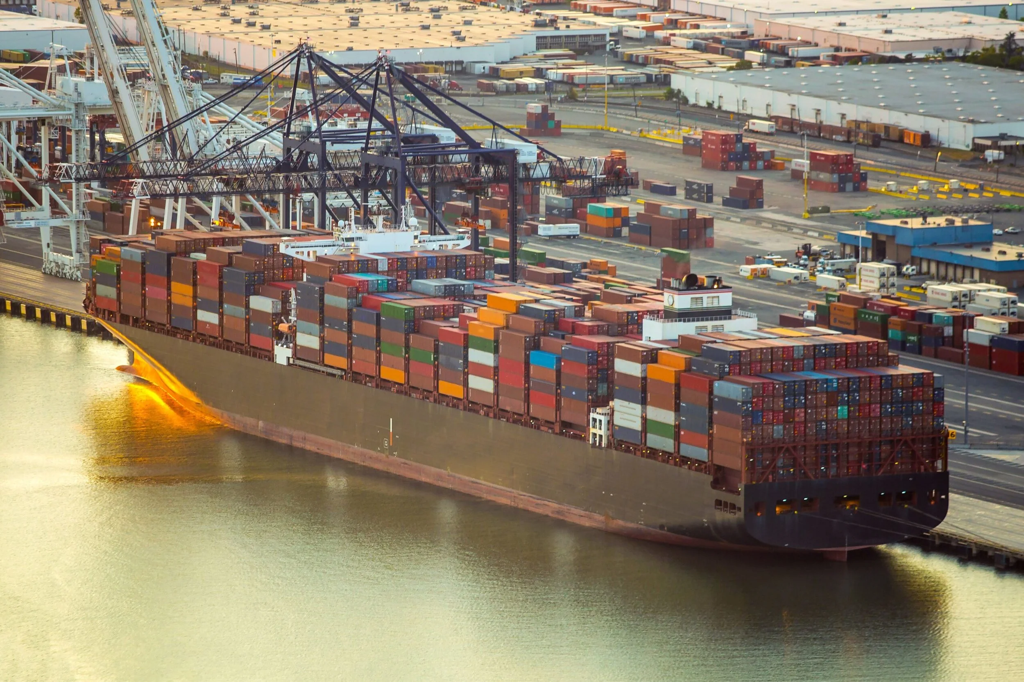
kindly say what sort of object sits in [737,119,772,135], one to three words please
vehicle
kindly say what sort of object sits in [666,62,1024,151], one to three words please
building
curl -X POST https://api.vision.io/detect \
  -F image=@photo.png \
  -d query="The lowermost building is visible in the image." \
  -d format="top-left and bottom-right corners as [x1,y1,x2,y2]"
[837,216,1024,291]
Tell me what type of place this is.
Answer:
port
